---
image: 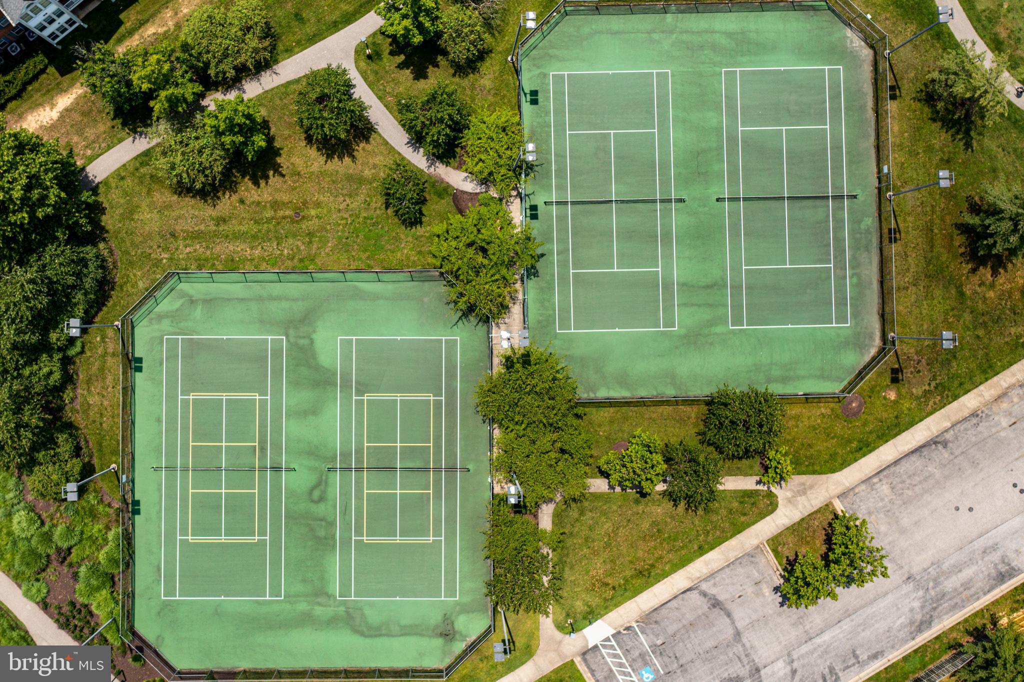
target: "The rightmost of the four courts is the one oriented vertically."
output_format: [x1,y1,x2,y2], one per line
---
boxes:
[723,67,850,328]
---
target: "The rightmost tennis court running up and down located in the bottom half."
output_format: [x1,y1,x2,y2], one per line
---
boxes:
[338,338,459,599]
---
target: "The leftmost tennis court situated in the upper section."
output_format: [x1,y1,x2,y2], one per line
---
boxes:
[551,70,677,332]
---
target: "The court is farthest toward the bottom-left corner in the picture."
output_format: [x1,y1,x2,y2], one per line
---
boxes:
[162,337,285,599]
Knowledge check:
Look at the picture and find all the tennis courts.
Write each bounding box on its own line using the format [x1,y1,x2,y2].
[723,67,850,328]
[551,70,677,332]
[338,338,459,599]
[162,337,285,599]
